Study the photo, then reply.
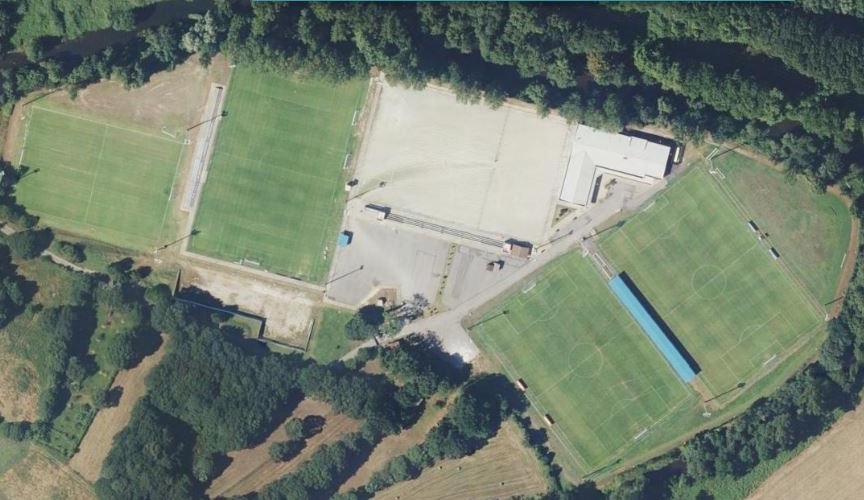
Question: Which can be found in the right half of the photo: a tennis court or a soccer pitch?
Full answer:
What appears in the right half of the photo is a soccer pitch.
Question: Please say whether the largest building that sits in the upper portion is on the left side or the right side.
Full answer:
The largest building that sits in the upper portion sits on the right side.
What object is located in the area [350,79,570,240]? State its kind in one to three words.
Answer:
sports field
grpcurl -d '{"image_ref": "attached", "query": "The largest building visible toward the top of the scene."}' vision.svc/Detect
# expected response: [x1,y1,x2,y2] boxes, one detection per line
[559,123,671,206]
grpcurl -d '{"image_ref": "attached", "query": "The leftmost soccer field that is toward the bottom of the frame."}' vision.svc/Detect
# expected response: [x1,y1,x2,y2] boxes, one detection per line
[474,247,697,474]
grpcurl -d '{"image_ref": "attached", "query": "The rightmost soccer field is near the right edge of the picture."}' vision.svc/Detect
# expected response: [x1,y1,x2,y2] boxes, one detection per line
[592,160,828,406]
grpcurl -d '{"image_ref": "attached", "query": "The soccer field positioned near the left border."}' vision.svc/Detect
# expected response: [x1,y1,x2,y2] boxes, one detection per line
[5,101,191,249]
